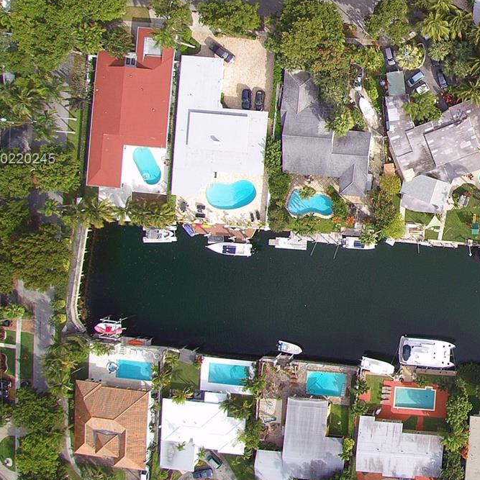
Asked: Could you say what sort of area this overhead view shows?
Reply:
residential area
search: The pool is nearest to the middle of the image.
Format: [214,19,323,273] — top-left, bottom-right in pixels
[205,179,256,210]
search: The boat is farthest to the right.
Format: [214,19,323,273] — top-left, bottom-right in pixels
[398,335,454,370]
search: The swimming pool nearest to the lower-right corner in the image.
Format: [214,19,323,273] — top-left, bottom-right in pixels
[392,386,436,411]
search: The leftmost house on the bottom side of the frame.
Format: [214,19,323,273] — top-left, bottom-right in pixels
[74,377,157,471]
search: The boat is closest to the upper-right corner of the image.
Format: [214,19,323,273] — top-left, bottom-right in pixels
[361,88,380,123]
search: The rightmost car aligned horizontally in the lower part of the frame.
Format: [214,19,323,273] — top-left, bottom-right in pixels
[191,465,214,478]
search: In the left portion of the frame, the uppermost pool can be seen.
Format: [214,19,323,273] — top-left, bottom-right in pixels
[130,146,162,185]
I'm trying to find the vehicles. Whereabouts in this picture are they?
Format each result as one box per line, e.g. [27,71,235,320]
[239,88,252,110]
[191,465,214,478]
[0,380,12,391]
[203,449,224,471]
[413,82,432,96]
[405,70,427,89]
[138,464,151,480]
[384,45,396,69]
[253,89,264,110]
[209,40,234,62]
[436,72,449,90]
[0,319,20,329]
